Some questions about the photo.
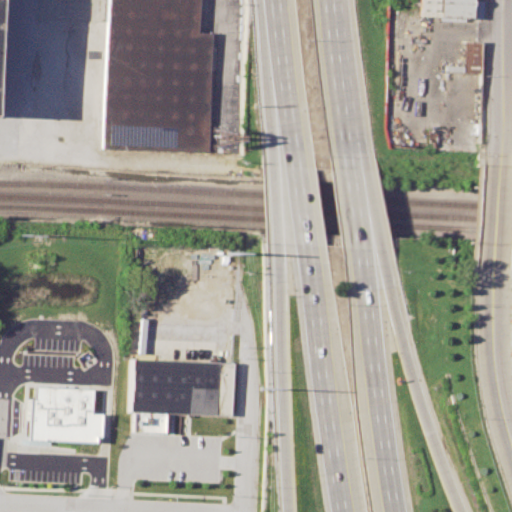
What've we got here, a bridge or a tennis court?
bridge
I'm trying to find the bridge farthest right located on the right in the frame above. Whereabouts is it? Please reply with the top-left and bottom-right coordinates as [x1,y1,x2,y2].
[474,168,512,262]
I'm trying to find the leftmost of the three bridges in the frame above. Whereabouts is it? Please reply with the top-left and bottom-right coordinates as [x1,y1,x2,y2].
[256,162,328,250]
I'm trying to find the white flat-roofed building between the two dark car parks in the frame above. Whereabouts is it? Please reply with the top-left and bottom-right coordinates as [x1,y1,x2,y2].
[30,388,105,444]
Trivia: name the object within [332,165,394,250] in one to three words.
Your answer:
bridge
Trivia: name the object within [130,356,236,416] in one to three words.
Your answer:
building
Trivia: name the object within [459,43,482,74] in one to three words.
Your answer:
shed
